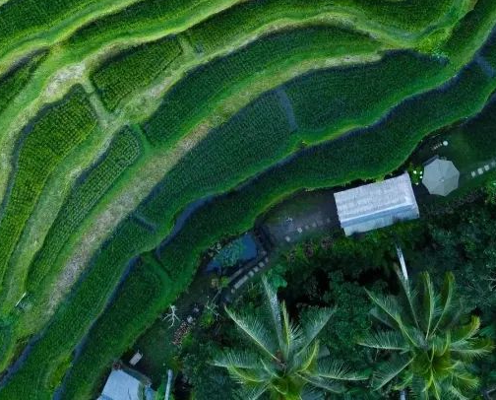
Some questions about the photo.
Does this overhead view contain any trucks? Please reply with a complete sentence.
No, the picture doesn't show any truck.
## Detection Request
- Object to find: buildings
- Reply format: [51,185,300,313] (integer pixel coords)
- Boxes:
[94,365,156,400]
[334,169,420,237]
